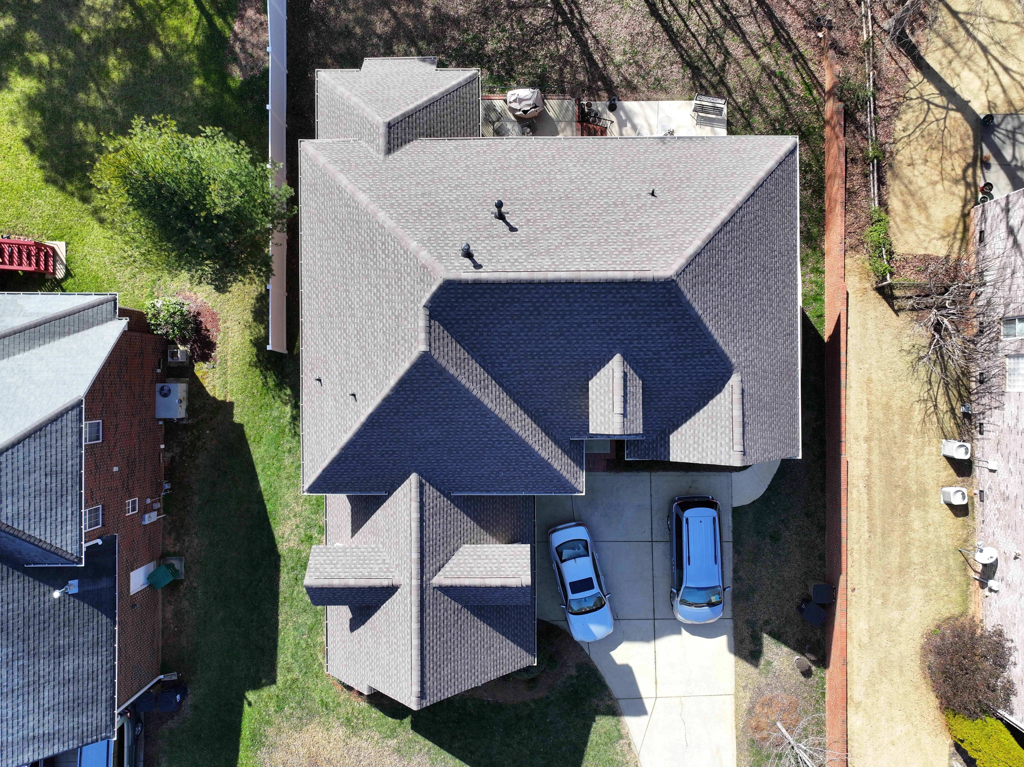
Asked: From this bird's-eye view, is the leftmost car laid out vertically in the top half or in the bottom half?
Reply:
bottom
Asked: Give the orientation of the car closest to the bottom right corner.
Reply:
up and down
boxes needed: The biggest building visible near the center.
[296,54,804,710]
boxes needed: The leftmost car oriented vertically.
[549,520,615,643]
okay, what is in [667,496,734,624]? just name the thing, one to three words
car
